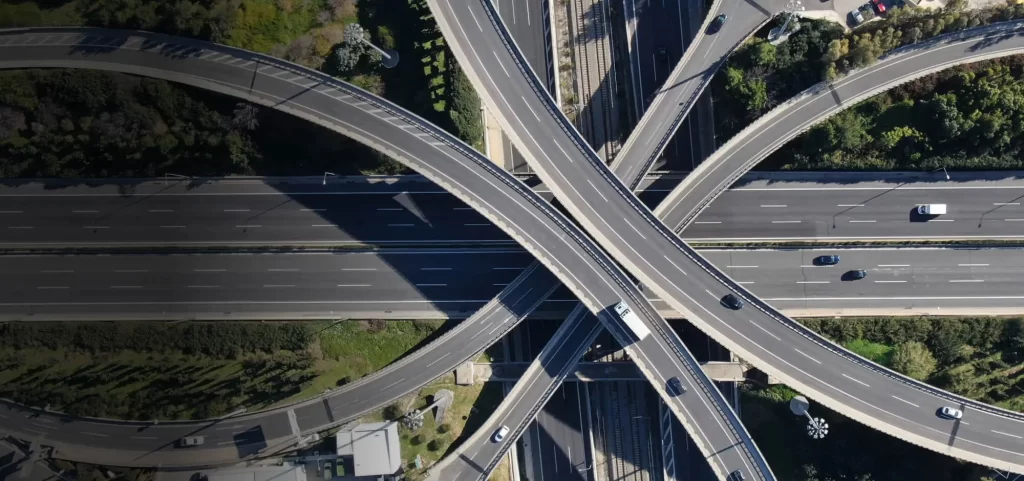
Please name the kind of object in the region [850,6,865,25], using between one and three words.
car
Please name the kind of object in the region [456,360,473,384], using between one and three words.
shed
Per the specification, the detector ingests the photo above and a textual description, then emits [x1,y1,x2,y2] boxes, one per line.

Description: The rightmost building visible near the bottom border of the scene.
[338,418,406,476]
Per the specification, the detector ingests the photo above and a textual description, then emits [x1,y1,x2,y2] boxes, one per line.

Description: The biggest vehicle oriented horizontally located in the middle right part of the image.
[917,203,945,215]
